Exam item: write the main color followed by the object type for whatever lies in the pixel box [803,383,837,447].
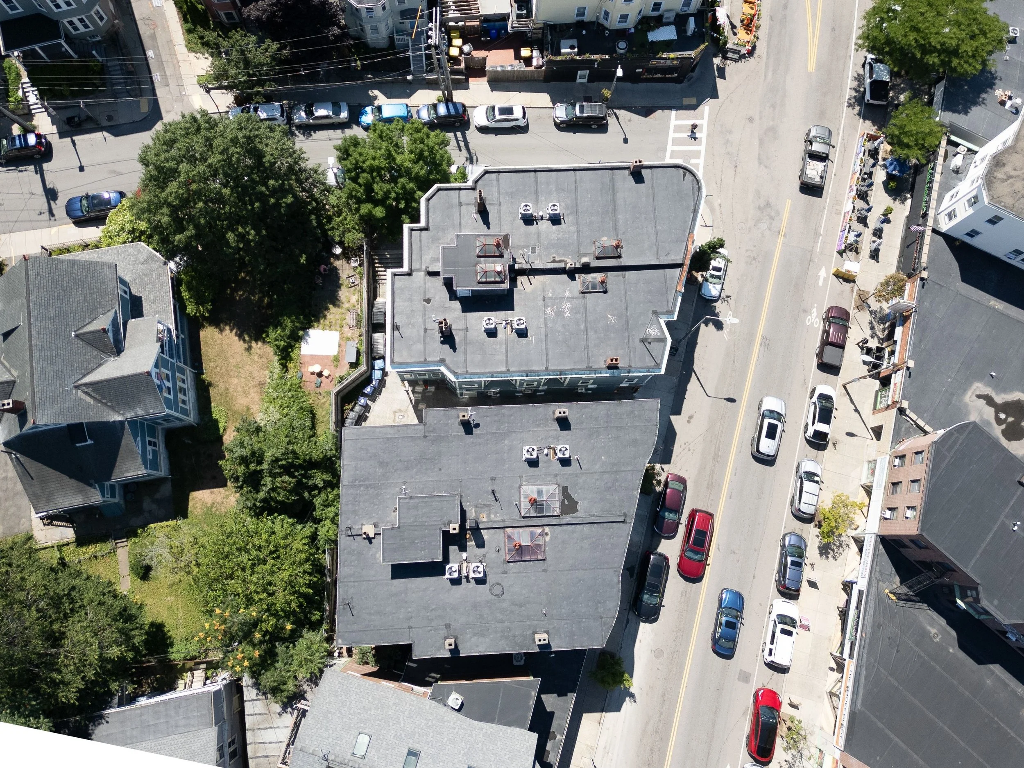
white car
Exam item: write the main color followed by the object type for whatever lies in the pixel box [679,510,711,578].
red car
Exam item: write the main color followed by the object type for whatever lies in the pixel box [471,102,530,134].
white car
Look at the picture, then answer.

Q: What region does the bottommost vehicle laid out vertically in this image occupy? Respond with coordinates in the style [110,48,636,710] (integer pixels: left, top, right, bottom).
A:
[747,687,783,762]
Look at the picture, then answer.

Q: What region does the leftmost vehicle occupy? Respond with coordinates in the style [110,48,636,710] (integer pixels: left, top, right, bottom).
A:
[0,131,50,163]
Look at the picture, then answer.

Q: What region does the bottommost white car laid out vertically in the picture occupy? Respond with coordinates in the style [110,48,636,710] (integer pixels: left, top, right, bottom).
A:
[764,597,799,671]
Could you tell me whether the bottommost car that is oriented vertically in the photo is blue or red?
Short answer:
red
